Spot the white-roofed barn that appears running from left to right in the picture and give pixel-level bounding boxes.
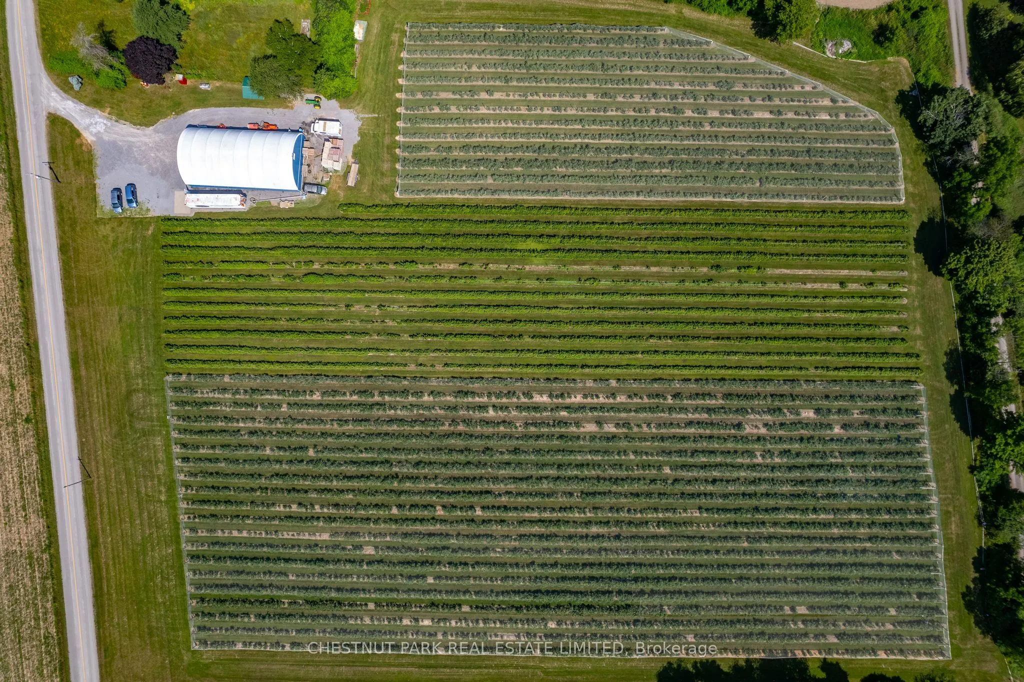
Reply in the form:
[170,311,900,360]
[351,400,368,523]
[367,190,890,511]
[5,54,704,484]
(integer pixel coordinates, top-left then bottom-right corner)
[176,126,304,195]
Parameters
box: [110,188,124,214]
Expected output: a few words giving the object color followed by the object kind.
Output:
blue car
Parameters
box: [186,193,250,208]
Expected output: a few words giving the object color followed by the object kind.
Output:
white trailer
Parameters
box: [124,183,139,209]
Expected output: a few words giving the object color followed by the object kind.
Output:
blue car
